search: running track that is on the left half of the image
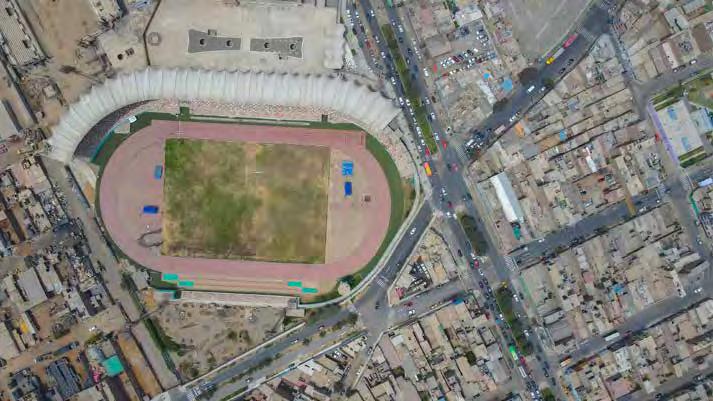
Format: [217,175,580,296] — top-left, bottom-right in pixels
[99,121,391,297]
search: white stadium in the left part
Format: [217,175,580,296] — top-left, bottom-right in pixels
[47,69,422,308]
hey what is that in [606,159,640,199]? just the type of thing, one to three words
house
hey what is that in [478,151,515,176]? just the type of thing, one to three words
house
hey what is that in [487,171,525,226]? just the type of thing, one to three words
building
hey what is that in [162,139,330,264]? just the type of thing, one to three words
soccer field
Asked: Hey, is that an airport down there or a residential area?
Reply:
residential area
